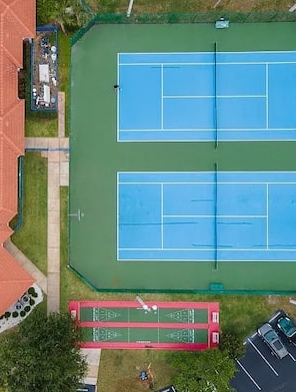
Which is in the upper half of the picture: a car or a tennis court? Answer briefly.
tennis court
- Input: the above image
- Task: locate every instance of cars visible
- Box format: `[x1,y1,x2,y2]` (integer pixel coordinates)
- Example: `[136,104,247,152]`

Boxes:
[257,323,293,363]
[276,313,296,347]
